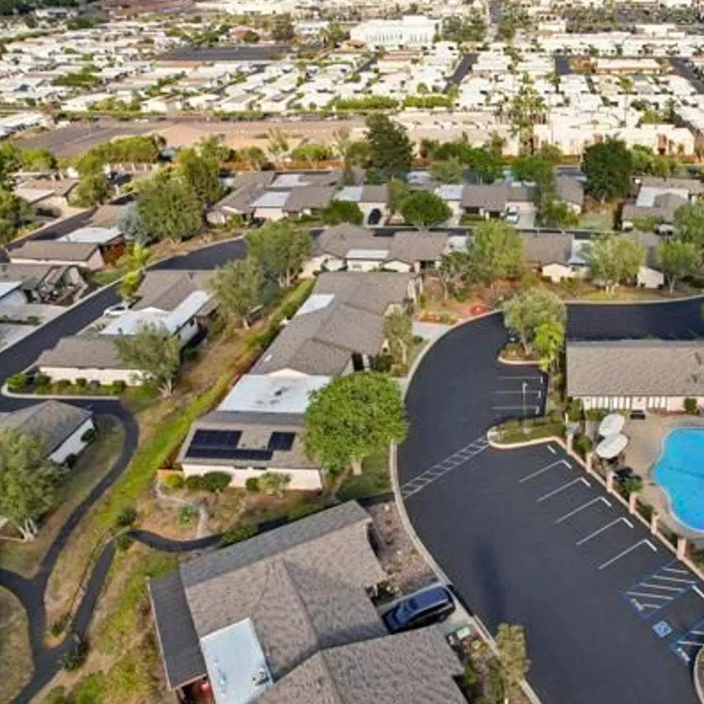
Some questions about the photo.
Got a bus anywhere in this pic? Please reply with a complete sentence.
No, I can see no bus in this picture.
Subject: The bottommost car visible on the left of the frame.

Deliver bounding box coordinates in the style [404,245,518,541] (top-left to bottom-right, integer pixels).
[92,300,134,322]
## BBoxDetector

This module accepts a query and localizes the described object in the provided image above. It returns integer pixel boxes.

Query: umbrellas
[596,414,628,438]
[594,435,631,460]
